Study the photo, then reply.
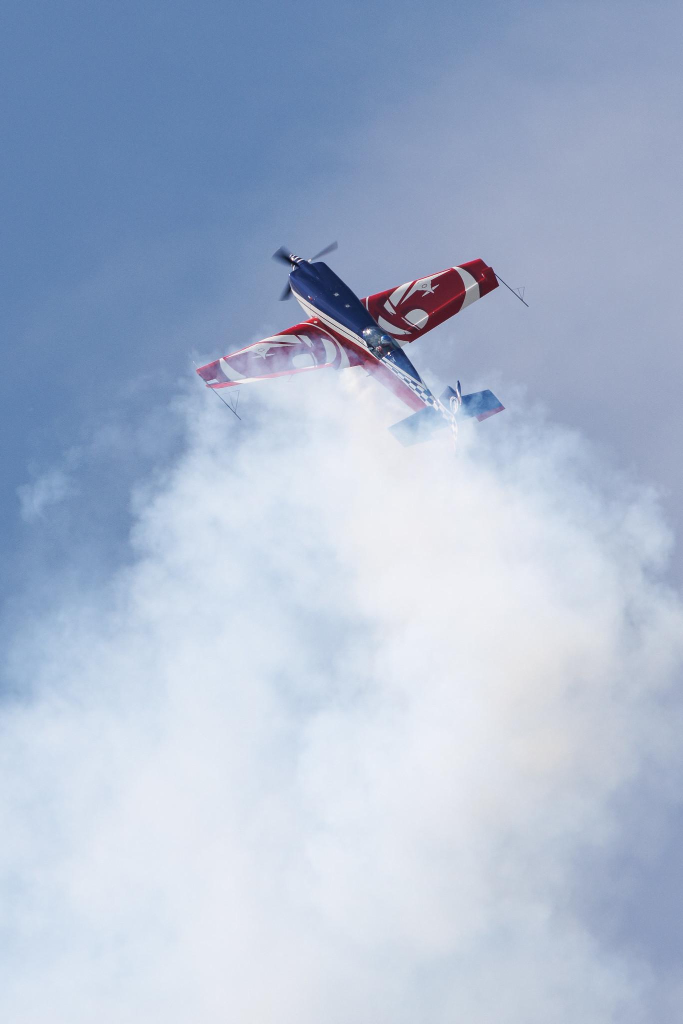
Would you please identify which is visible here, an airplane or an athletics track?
airplane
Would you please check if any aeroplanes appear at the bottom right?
No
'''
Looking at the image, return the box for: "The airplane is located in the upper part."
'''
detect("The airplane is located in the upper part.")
[190,239,526,454]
